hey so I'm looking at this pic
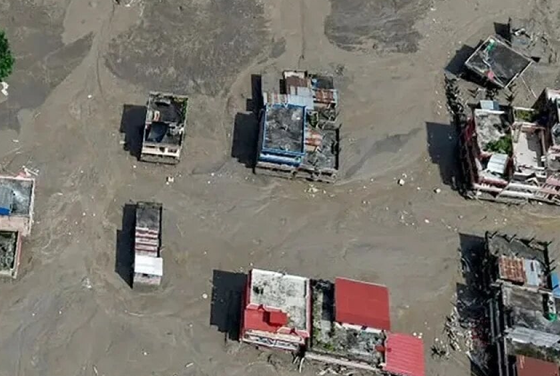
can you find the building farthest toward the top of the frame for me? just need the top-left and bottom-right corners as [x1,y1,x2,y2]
[503,19,553,65]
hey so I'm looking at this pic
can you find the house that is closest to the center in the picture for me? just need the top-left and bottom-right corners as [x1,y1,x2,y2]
[257,72,339,181]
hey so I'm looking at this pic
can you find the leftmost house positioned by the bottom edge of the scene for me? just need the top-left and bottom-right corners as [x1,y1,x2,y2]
[236,270,310,359]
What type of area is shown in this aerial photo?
residential area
